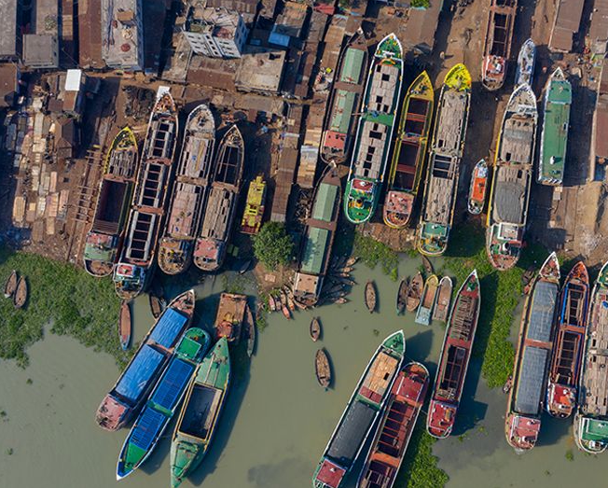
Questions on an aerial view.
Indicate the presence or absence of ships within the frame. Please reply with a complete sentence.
Yes, there's a ship down there.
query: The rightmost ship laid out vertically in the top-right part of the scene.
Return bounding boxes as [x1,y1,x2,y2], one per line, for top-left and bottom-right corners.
[536,66,569,185]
